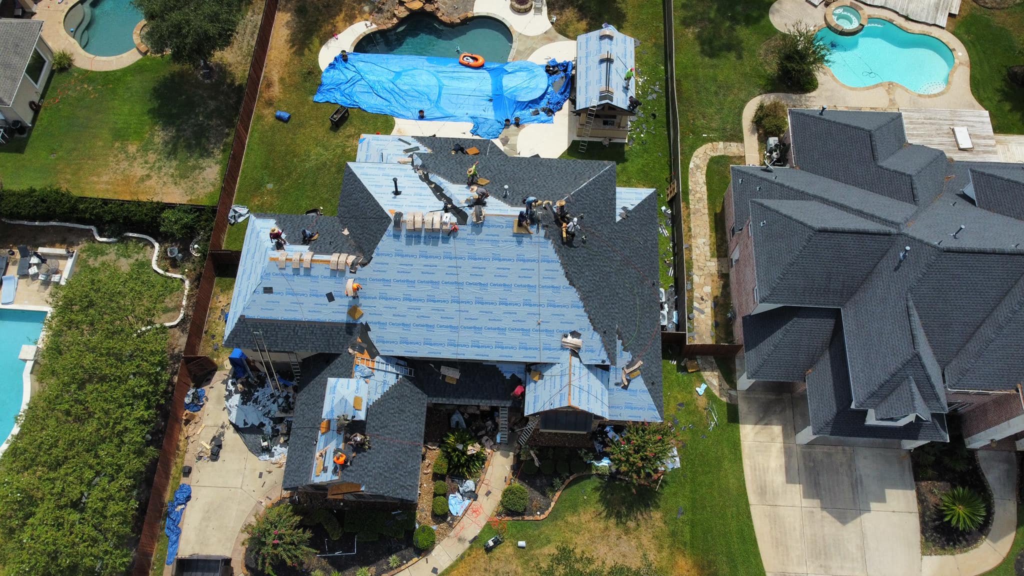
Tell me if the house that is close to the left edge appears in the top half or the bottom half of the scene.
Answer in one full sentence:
Seen from above, the house that is close to the left edge lies in the top half of the view.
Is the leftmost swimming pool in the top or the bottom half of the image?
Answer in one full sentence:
You can find the leftmost swimming pool in the bottom half.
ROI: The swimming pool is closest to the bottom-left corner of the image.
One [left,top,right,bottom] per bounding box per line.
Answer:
[0,303,52,459]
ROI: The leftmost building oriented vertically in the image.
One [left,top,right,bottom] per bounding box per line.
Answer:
[0,0,64,127]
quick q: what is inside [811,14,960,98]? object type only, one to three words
swimming pool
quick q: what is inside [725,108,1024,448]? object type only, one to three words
house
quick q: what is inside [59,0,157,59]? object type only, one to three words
swimming pool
